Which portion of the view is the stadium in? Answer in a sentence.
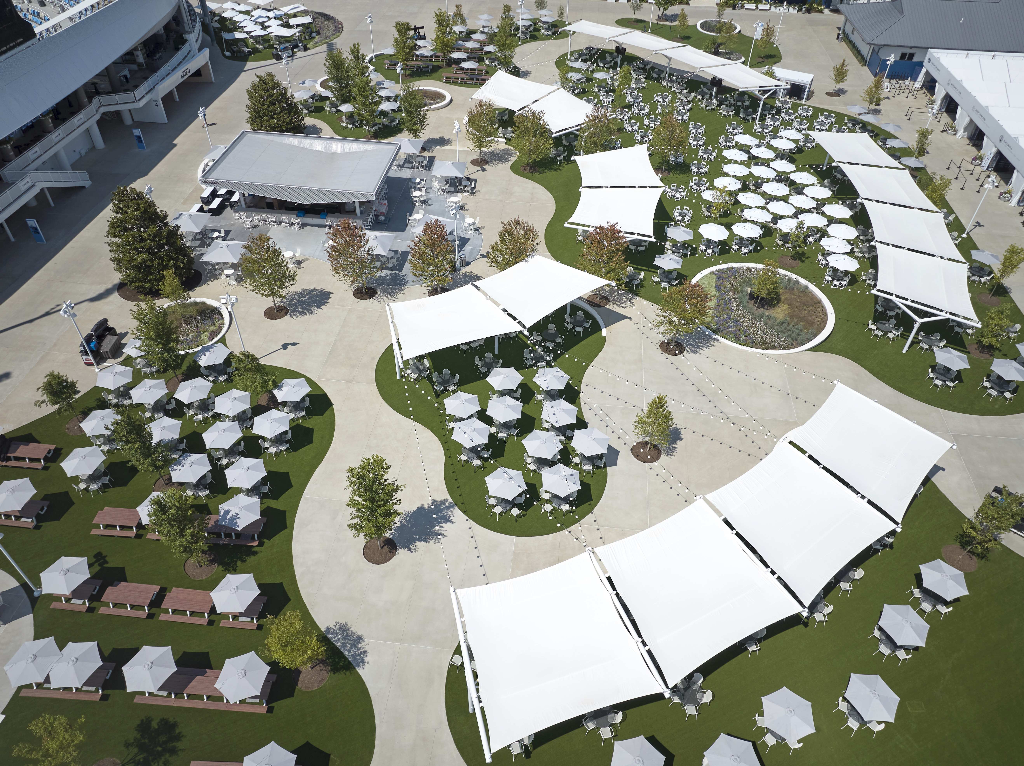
Look in the top left portion of the view to spot the stadium.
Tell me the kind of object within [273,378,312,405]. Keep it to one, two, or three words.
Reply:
umbrella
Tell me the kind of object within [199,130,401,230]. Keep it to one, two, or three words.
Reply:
building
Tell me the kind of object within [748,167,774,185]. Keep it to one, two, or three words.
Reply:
umbrella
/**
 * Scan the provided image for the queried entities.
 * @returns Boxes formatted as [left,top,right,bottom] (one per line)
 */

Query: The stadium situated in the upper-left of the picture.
[0,0,214,242]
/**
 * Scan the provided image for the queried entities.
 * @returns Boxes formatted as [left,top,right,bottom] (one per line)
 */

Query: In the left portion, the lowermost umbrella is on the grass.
[249,739,302,766]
